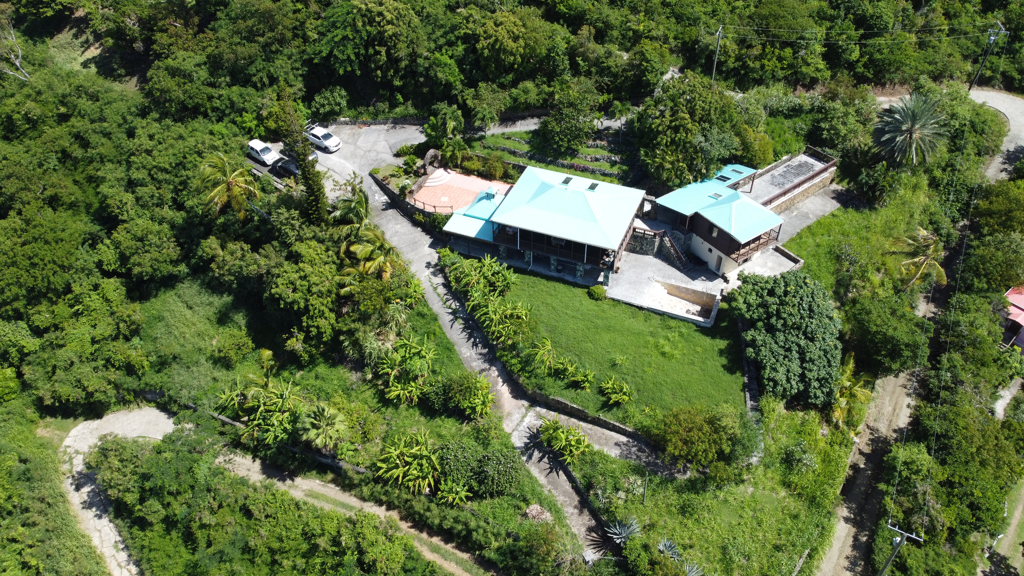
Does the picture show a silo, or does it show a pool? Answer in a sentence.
It is a pool that can be seen here.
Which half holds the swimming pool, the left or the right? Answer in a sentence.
The swimming pool is on the right side of the image.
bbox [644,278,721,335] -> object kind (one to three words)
swimming pool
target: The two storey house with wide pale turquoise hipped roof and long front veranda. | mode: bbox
[440,165,645,289]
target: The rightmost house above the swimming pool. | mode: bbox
[660,168,788,275]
